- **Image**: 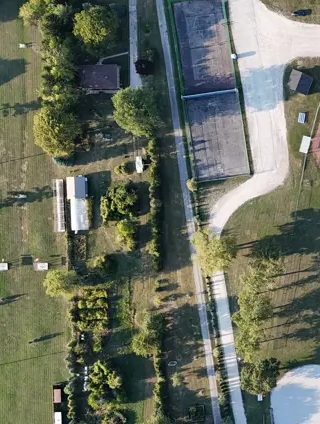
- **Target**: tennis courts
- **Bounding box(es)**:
[184,91,249,180]
[174,0,236,94]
